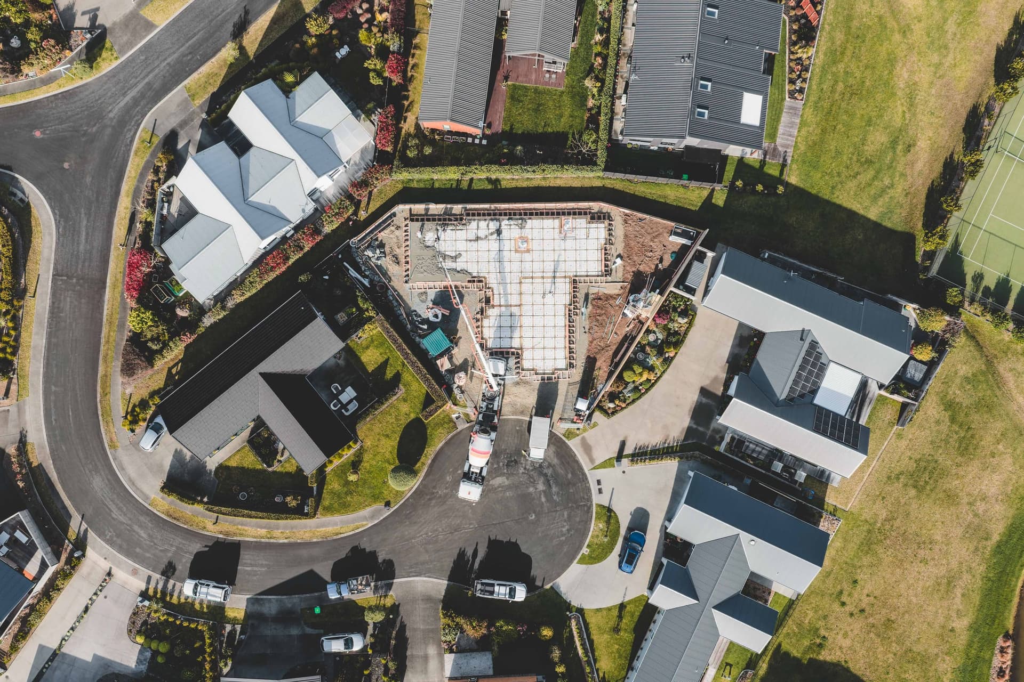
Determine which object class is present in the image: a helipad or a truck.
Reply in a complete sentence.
The image shows a truck.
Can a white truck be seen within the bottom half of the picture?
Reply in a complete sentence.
Yes, a white truck appears within the bottom half of the picture.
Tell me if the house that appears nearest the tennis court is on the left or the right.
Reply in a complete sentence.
The house that appears nearest the tennis court is on the right side of the image.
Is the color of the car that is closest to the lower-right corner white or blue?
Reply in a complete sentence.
The car that is closest to the lower-right corner is blue.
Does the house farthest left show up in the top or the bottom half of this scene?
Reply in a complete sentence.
The house farthest left sits in the bottom half of the picture.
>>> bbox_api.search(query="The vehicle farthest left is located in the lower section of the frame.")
[137,411,167,454]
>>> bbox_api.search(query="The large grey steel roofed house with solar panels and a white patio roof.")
[700,246,910,479]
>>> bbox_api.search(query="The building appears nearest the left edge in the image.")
[0,509,63,639]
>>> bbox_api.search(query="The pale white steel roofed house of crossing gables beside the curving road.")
[161,71,374,304]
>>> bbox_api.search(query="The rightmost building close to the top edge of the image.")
[623,0,784,153]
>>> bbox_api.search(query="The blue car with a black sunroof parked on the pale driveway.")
[620,529,646,576]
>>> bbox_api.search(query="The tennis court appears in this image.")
[936,87,1024,316]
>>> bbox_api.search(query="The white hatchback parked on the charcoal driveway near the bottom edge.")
[320,631,365,654]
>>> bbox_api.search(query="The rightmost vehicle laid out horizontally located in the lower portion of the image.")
[473,578,526,603]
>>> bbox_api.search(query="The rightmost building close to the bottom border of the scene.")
[621,468,829,682]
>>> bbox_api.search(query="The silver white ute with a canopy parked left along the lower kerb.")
[184,578,233,604]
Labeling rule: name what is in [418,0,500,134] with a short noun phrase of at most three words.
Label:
house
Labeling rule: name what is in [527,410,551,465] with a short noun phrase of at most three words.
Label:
truck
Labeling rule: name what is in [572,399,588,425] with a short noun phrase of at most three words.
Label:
work vehicle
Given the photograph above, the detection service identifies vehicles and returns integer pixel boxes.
[527,410,551,465]
[438,254,520,433]
[320,631,365,654]
[137,411,167,454]
[572,399,588,425]
[454,422,496,509]
[184,578,233,604]
[473,578,526,603]
[327,574,375,600]
[620,529,646,576]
